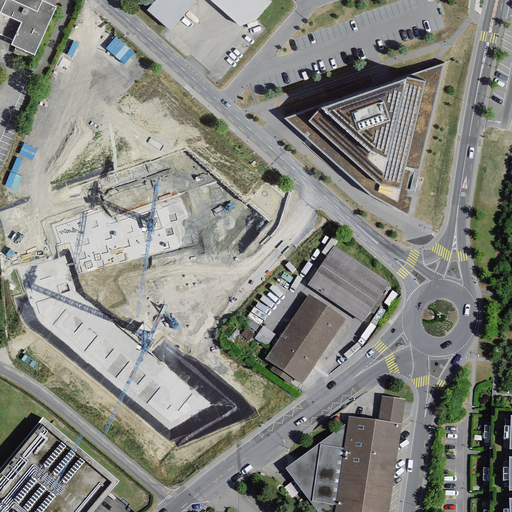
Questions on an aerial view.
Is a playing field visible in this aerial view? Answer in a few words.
No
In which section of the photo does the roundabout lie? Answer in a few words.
right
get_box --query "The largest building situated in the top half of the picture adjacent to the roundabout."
[285,63,444,216]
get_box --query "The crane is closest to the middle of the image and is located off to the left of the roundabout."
[134,180,158,320]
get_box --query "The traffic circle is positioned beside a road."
[338,208,479,408]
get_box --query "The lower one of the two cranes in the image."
[80,302,165,474]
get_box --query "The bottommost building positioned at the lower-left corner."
[0,417,119,512]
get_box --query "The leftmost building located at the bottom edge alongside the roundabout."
[286,396,406,512]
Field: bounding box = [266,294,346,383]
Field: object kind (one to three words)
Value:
building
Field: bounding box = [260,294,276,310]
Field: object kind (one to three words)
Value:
vehicle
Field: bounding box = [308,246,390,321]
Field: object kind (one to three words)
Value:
building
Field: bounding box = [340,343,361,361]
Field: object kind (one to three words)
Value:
vehicle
